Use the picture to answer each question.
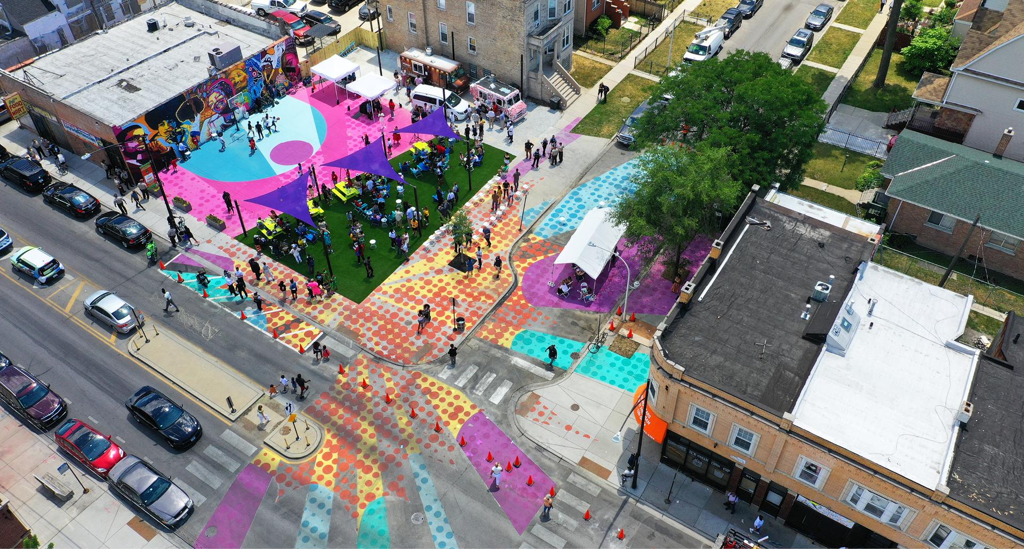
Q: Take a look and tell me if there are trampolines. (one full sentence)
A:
No, I can't see a single trampoline in this photo.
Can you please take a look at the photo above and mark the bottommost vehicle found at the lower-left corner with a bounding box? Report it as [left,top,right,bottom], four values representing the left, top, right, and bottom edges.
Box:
[107,456,197,531]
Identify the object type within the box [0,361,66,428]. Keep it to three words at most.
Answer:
car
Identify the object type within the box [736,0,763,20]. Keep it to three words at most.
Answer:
car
